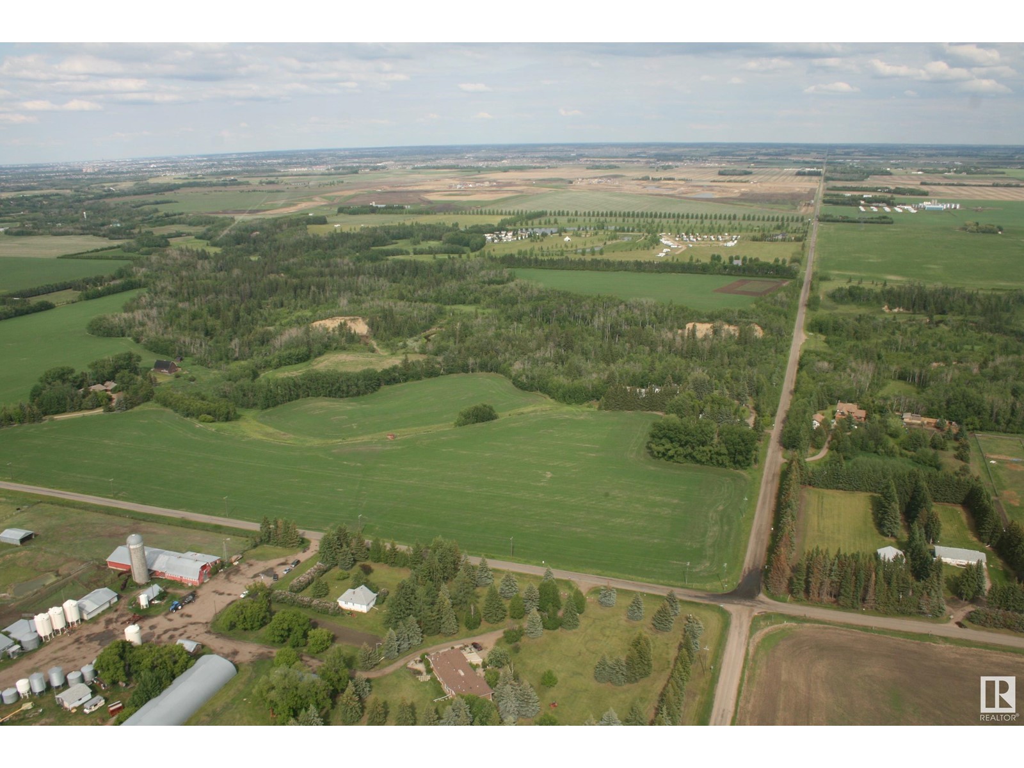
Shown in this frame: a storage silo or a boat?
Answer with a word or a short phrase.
storage silo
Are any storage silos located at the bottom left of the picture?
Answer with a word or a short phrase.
Yes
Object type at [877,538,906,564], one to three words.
building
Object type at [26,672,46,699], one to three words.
silo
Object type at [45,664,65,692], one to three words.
silo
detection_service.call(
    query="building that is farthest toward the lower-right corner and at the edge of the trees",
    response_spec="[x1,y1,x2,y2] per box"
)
[932,549,989,568]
